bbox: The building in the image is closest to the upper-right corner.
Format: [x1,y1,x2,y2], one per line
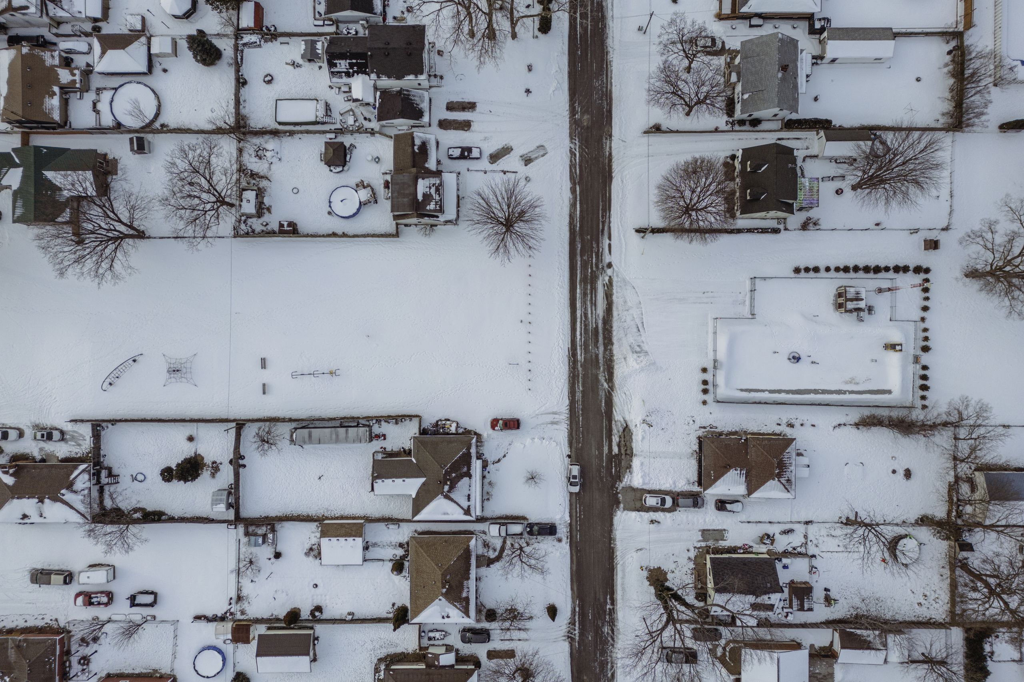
[819,27,898,63]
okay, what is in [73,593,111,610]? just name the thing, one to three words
vehicle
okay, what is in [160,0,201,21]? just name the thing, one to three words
gazebo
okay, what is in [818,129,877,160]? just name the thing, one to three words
building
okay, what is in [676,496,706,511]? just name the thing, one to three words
car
